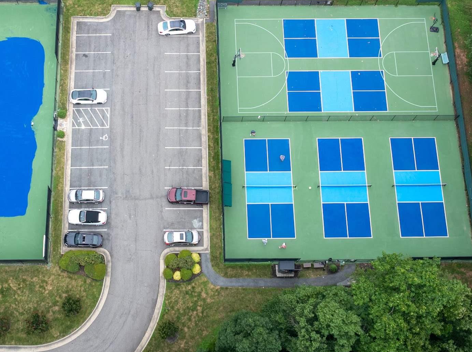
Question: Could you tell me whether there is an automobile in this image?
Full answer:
Yes, an automobile appears in the view.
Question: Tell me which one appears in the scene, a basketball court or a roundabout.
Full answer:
I can see a basketball court in this picture.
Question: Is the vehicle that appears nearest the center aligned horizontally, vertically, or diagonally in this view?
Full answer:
The vehicle that appears nearest the center is oriented horizontally.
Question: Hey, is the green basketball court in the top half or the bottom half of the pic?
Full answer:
Seen from above, the green basketball court lies in the top half of the view.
